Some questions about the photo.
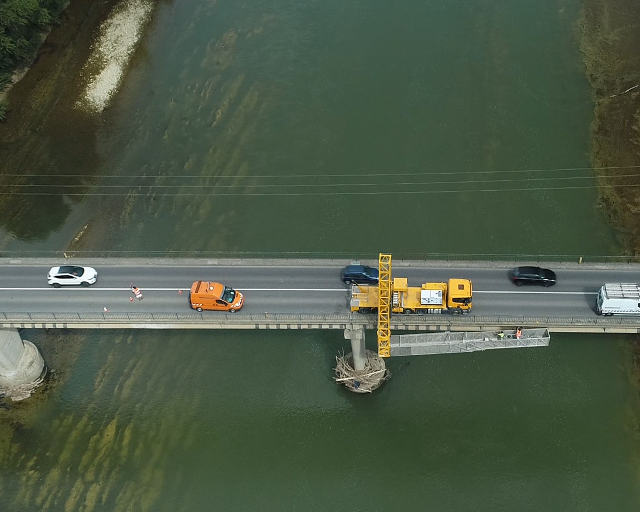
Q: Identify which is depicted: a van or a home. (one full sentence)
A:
It is a van that can be seen here.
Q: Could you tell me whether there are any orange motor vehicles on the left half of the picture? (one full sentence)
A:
Yes, you'll find an orange motor vehicle on the left half of the picture.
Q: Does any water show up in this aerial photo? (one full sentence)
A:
Yes, there's water in this view.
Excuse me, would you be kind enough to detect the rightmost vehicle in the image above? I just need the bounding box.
[594,277,640,315]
